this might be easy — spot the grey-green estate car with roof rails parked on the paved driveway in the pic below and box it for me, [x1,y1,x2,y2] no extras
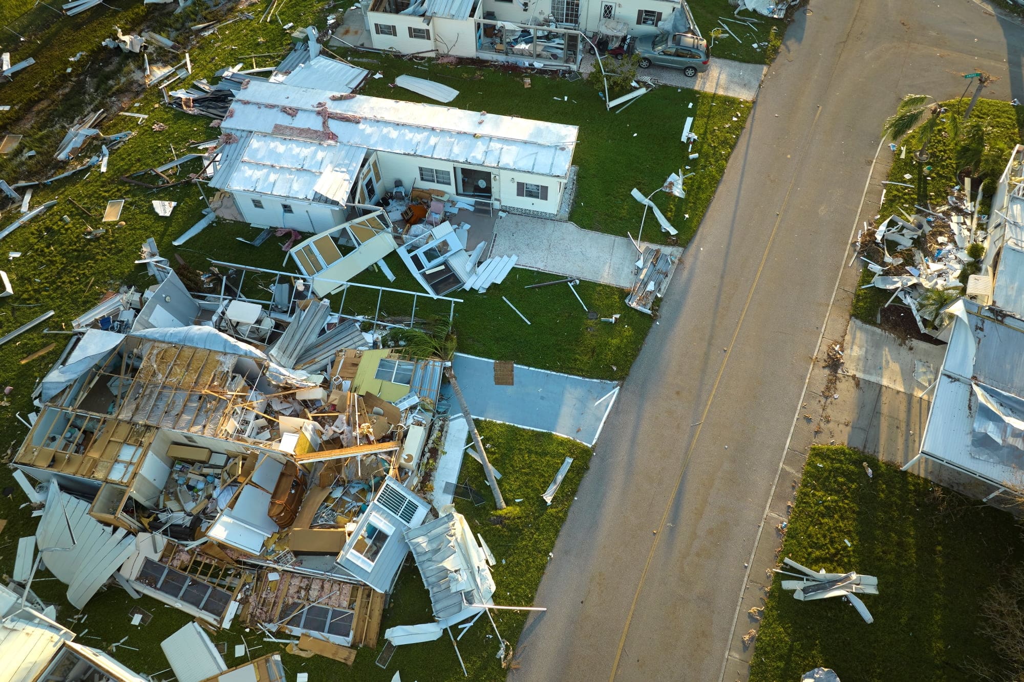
[631,31,717,78]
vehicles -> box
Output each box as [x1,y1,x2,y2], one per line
[631,31,717,78]
[587,12,634,55]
